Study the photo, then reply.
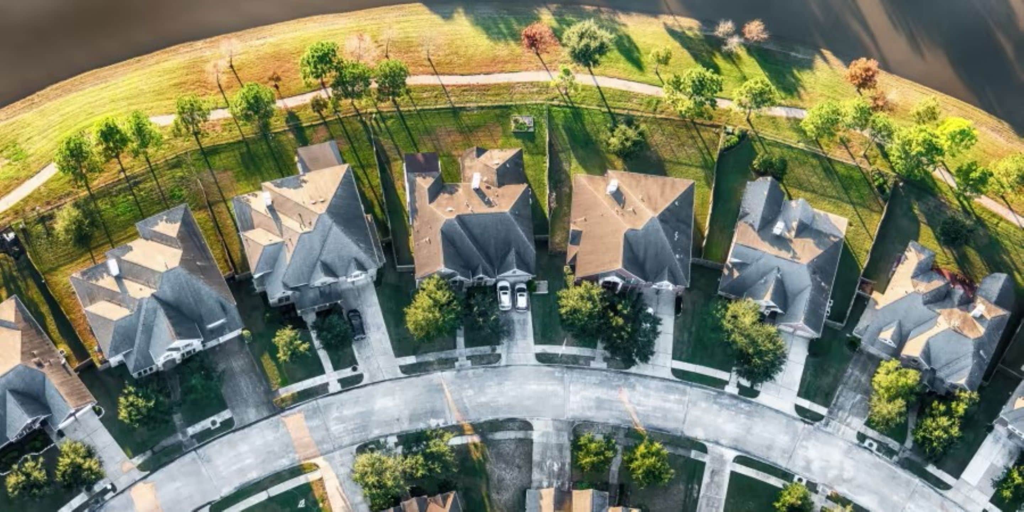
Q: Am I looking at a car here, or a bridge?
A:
car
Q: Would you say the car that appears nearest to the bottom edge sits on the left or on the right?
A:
left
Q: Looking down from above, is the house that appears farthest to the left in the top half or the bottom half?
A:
bottom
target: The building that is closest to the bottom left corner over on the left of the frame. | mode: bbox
[0,294,98,444]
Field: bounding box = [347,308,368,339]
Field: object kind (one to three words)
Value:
car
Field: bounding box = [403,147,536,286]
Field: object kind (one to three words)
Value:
house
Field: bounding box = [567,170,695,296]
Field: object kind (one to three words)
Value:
house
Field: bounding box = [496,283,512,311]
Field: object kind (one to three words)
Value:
car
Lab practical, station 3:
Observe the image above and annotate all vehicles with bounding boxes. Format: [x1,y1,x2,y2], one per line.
[513,284,529,314]
[347,308,368,339]
[496,283,512,311]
